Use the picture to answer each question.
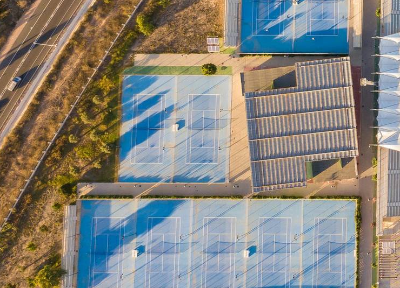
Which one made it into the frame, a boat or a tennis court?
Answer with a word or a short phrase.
tennis court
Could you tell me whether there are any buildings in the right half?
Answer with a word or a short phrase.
Yes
